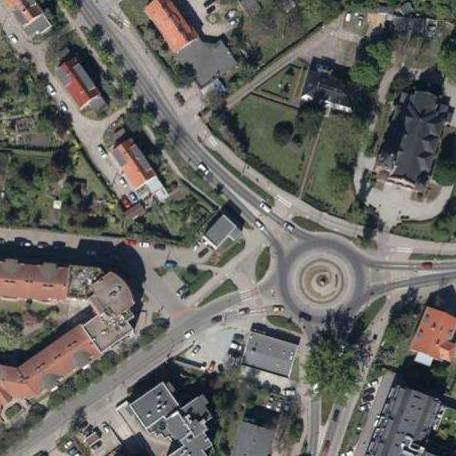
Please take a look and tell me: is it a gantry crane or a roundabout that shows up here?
roundabout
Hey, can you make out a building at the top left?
Yes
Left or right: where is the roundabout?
right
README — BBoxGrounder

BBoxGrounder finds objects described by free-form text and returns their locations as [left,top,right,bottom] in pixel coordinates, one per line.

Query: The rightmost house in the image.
[411,306,456,367]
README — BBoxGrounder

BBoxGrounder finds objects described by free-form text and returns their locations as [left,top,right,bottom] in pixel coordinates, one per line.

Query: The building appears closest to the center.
[199,216,241,250]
